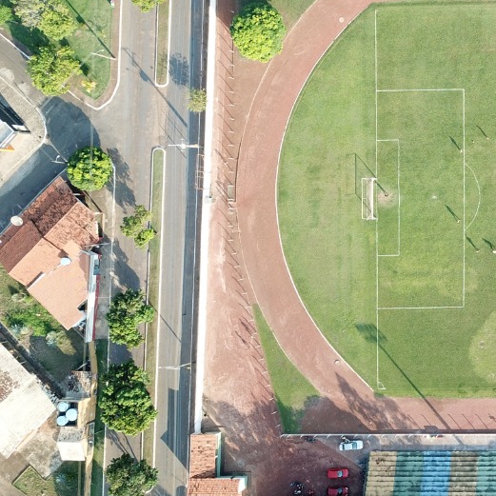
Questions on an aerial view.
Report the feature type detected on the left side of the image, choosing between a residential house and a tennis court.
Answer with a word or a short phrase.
residential house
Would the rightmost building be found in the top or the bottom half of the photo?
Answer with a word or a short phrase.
bottom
